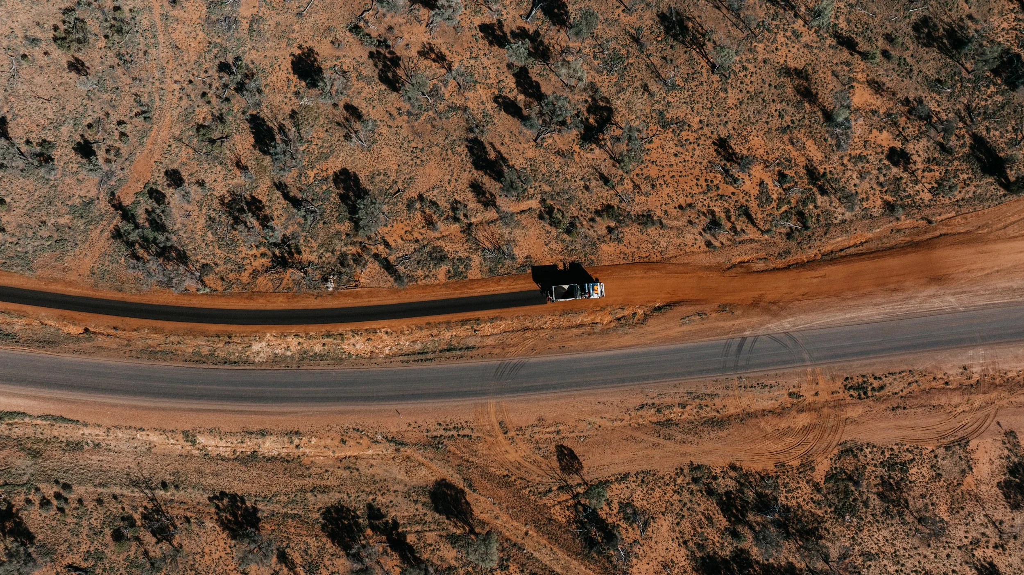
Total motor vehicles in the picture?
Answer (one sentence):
There is 1 motor vehicle in the image.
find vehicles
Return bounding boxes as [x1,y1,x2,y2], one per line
[544,282,606,302]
